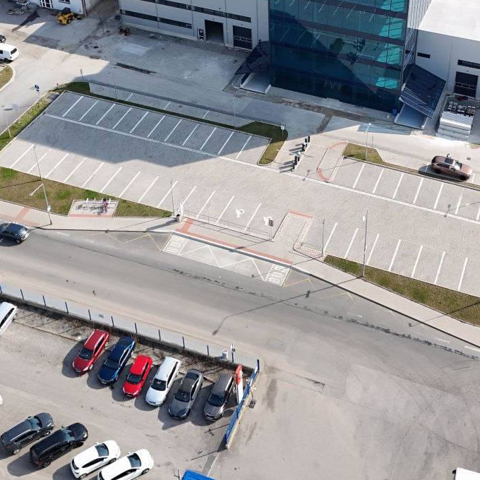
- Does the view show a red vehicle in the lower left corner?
Yes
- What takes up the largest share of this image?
paved ground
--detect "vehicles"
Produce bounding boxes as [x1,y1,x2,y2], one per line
[202,371,236,423]
[430,154,471,182]
[98,334,139,385]
[146,355,183,407]
[67,439,122,480]
[55,6,81,22]
[168,367,206,420]
[0,34,9,43]
[121,353,157,398]
[28,422,88,468]
[0,410,57,456]
[98,449,153,480]
[0,222,32,243]
[0,42,20,62]
[71,327,111,376]
[0,303,18,340]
